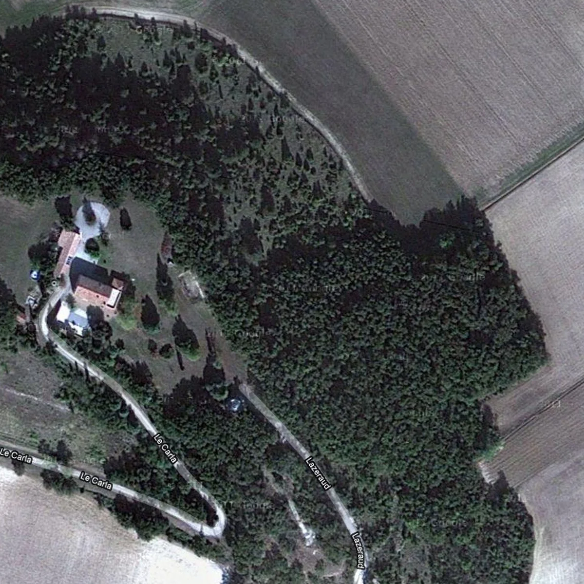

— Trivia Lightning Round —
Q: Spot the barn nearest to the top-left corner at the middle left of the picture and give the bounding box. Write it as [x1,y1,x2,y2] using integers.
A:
[54,231,82,275]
